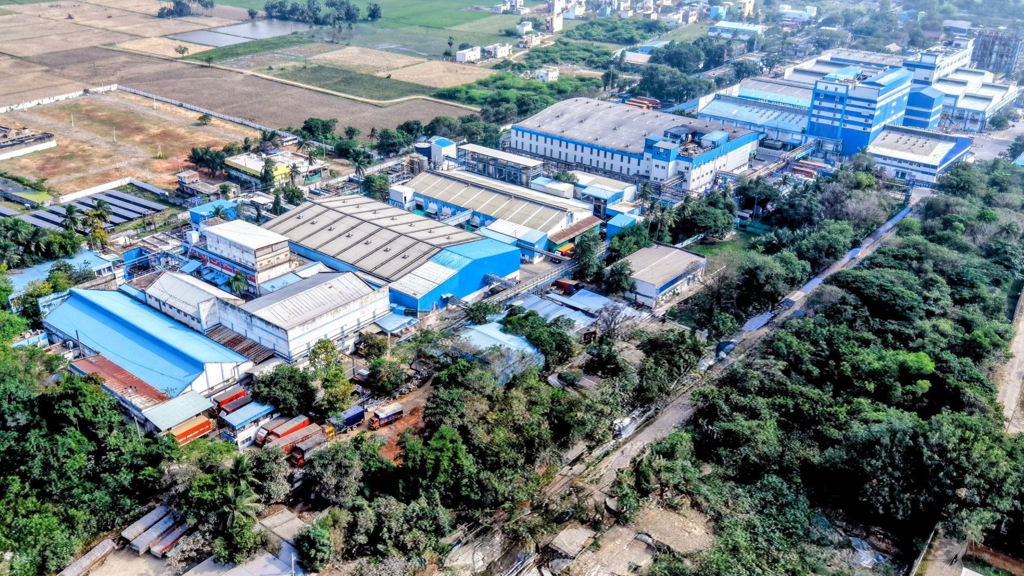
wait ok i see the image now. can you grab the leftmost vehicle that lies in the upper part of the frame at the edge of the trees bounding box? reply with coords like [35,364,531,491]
[278,132,301,146]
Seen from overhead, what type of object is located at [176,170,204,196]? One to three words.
building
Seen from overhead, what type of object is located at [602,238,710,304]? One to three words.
building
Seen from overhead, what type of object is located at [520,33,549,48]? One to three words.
house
